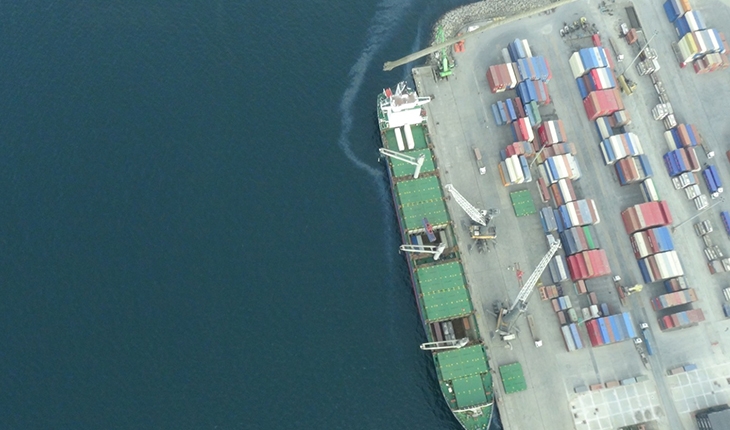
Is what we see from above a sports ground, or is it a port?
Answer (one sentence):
The picture captures a port.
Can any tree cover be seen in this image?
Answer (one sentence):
No, tree cover can't be seen anywhere here.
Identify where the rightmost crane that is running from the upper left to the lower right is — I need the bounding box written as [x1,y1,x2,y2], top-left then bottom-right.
[443,183,498,250]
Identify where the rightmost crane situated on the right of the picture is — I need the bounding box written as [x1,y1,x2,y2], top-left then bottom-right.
[486,237,561,343]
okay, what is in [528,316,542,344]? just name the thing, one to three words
vehicle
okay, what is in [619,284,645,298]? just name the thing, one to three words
work vehicle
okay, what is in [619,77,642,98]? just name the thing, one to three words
work vehicle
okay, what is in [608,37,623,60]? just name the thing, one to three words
vehicle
